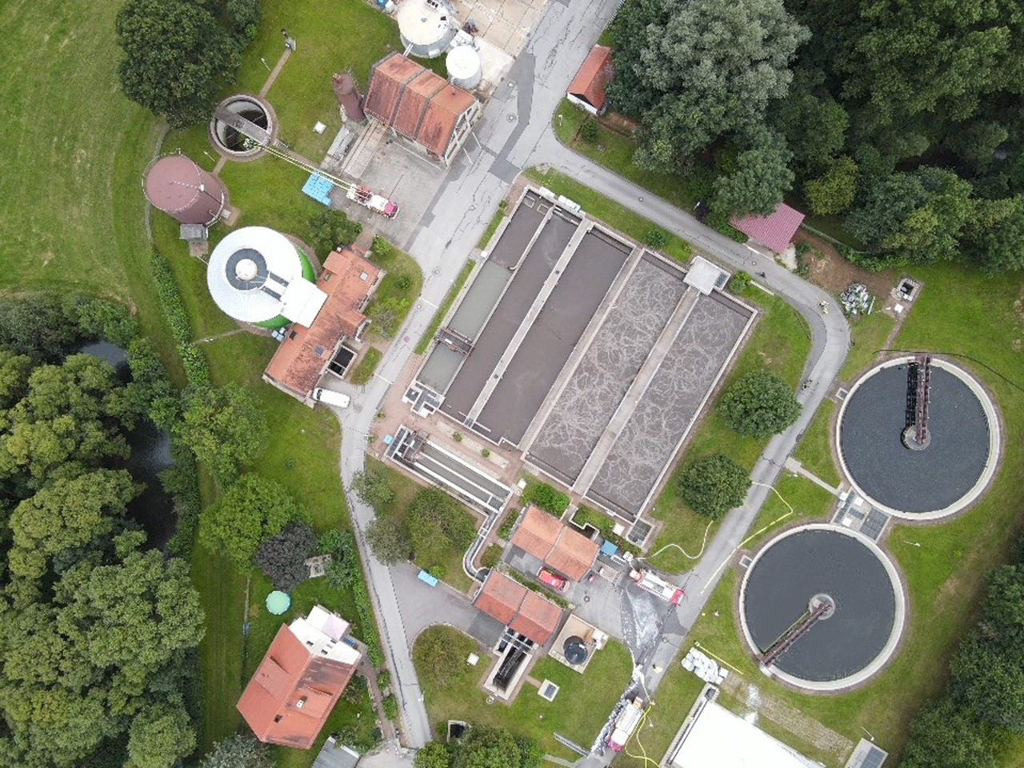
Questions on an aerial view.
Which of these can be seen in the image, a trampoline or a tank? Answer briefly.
tank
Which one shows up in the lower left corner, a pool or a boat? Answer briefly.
pool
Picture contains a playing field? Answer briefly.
No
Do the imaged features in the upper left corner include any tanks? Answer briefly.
Yes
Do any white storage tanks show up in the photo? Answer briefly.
Yes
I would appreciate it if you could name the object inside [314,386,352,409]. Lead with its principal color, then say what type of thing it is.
white vehicle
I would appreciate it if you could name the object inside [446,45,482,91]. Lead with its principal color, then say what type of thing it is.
white storage tank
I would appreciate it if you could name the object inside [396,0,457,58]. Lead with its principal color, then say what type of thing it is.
white storage tank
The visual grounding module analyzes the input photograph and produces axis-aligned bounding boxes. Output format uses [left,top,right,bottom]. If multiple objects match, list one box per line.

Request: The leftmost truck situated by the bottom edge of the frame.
[602,691,647,757]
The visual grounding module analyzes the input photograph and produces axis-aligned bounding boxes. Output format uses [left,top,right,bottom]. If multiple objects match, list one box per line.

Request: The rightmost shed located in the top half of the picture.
[729,201,805,254]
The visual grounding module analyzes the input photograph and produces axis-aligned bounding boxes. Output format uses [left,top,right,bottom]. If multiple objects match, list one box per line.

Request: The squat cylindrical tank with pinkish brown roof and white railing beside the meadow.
[140,153,228,223]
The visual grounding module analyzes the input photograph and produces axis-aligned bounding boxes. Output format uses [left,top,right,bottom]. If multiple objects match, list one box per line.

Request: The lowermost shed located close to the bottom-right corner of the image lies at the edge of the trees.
[839,733,889,768]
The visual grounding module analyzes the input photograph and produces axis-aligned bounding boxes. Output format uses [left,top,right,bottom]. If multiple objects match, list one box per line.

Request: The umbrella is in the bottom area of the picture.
[324,613,348,640]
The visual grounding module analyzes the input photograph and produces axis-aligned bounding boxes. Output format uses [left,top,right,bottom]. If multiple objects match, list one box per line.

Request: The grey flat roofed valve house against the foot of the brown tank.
[179,223,212,242]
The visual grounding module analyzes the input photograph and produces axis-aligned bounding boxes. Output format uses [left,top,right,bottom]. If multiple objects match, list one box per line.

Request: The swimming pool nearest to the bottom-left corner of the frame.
[265,590,291,616]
